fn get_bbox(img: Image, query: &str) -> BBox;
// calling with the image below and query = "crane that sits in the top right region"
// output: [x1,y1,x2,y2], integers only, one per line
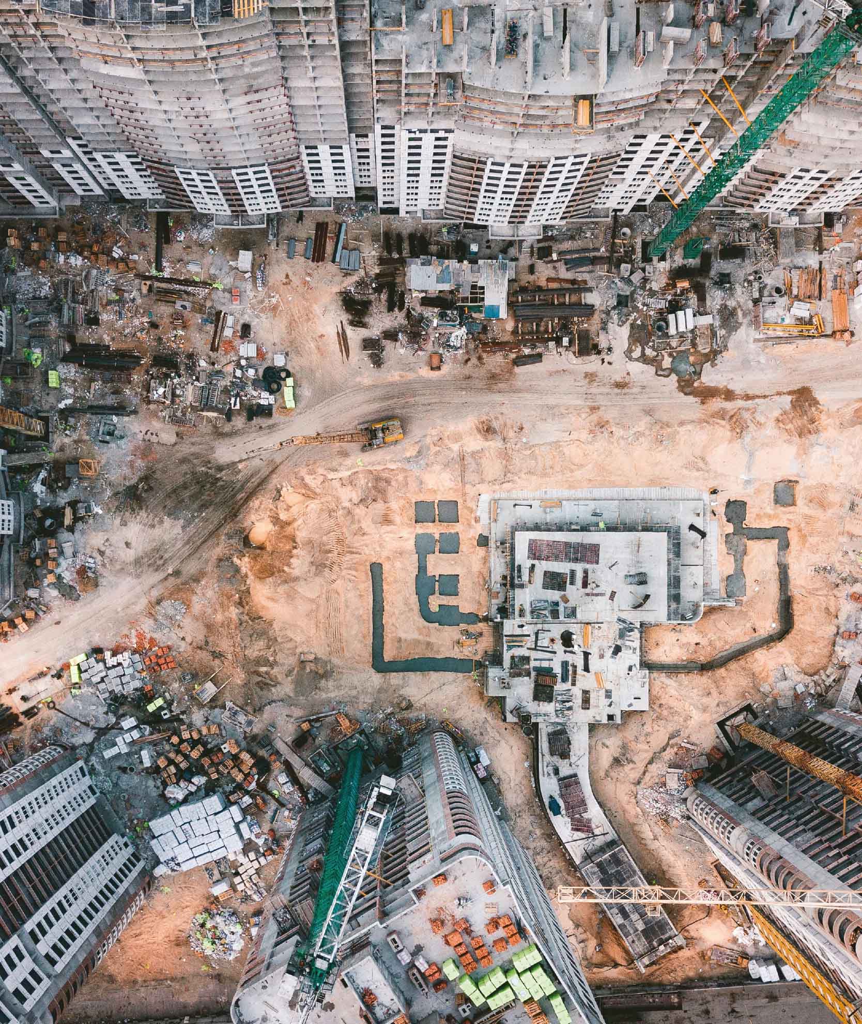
[650,0,862,265]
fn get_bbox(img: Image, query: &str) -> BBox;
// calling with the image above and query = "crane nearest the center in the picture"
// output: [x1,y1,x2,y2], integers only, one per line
[237,417,411,450]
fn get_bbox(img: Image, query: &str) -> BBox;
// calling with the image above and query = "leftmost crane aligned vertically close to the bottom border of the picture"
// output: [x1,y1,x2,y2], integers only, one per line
[280,729,407,1024]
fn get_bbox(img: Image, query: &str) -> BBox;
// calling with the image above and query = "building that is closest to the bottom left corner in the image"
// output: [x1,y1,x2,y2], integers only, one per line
[0,745,154,1024]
